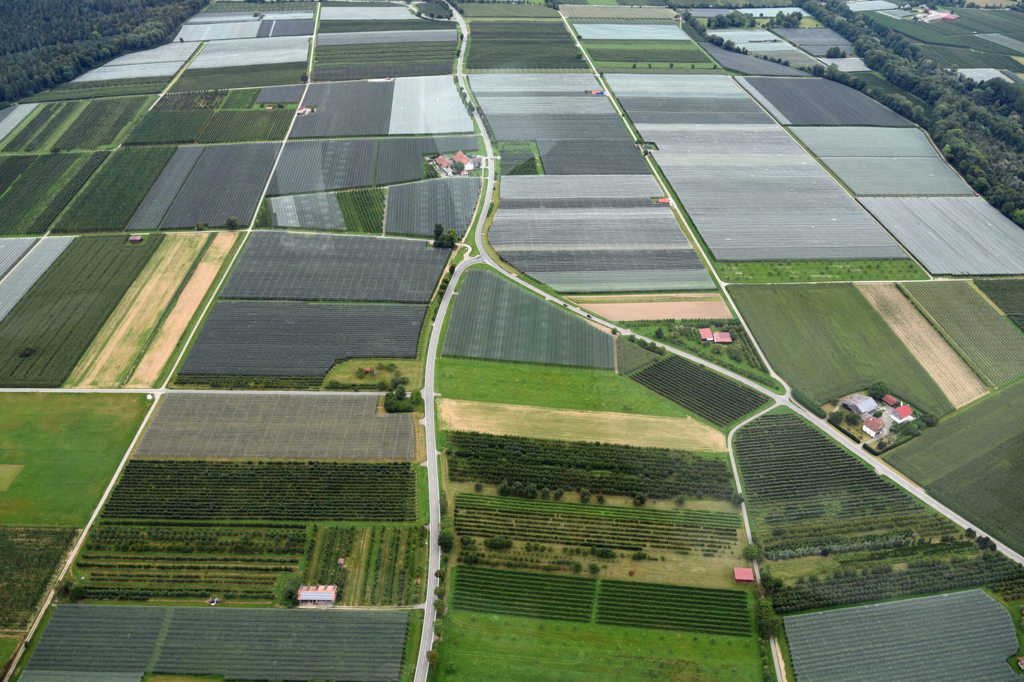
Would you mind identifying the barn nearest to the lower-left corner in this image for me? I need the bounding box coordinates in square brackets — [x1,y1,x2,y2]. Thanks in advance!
[298,582,338,604]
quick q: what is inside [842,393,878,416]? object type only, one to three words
barn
